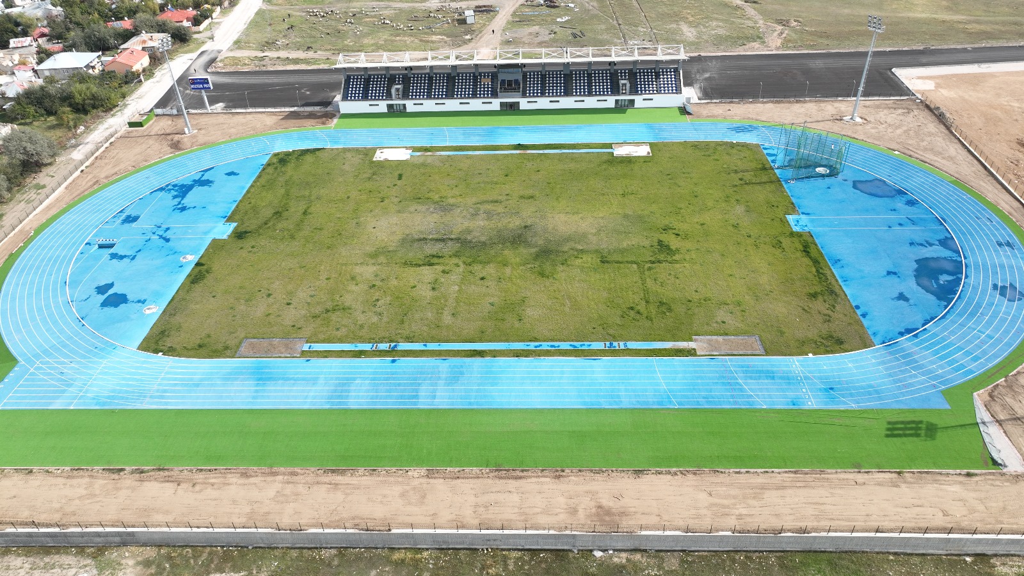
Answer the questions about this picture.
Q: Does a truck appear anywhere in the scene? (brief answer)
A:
No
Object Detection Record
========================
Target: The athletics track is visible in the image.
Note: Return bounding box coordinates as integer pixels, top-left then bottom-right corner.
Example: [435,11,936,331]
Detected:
[0,122,1024,409]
